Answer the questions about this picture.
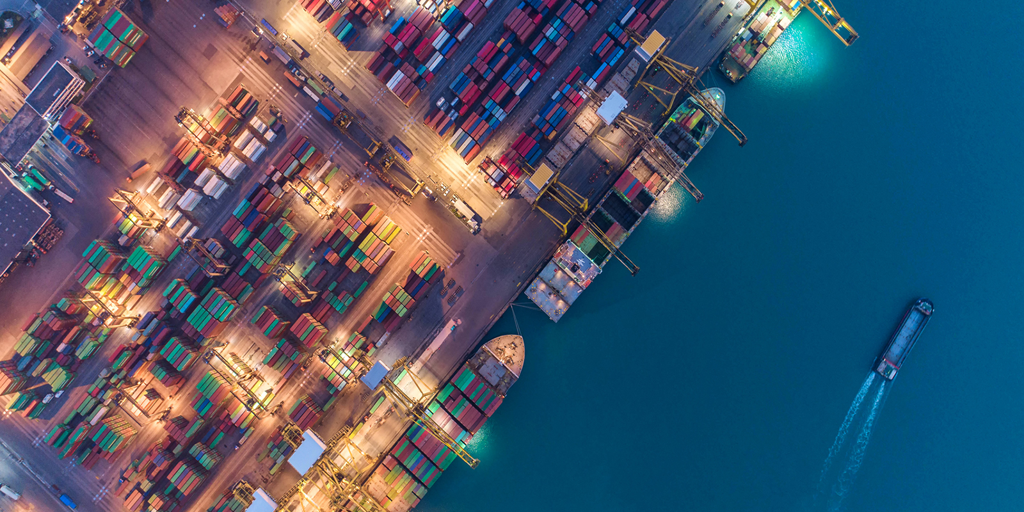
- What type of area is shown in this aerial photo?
port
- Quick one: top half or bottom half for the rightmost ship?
bottom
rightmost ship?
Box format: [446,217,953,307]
[874,301,932,383]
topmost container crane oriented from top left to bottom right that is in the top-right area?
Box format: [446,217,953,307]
[797,0,860,51]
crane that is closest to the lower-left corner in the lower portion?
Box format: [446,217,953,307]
[109,377,173,427]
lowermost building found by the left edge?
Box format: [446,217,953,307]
[0,165,56,278]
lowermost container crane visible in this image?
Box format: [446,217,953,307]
[234,471,339,512]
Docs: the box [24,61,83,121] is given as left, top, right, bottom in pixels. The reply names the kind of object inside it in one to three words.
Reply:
building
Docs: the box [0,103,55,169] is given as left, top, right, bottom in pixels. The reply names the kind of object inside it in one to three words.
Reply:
building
